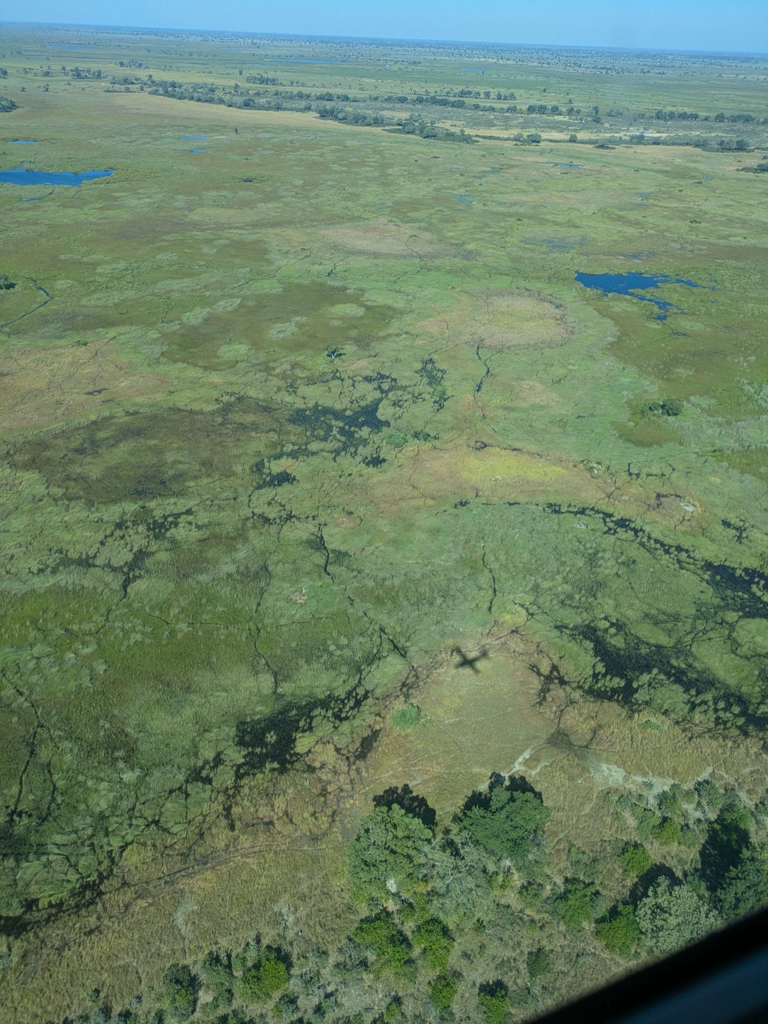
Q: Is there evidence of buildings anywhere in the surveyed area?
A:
No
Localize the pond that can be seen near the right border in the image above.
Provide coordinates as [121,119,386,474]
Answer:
[565,273,731,343]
